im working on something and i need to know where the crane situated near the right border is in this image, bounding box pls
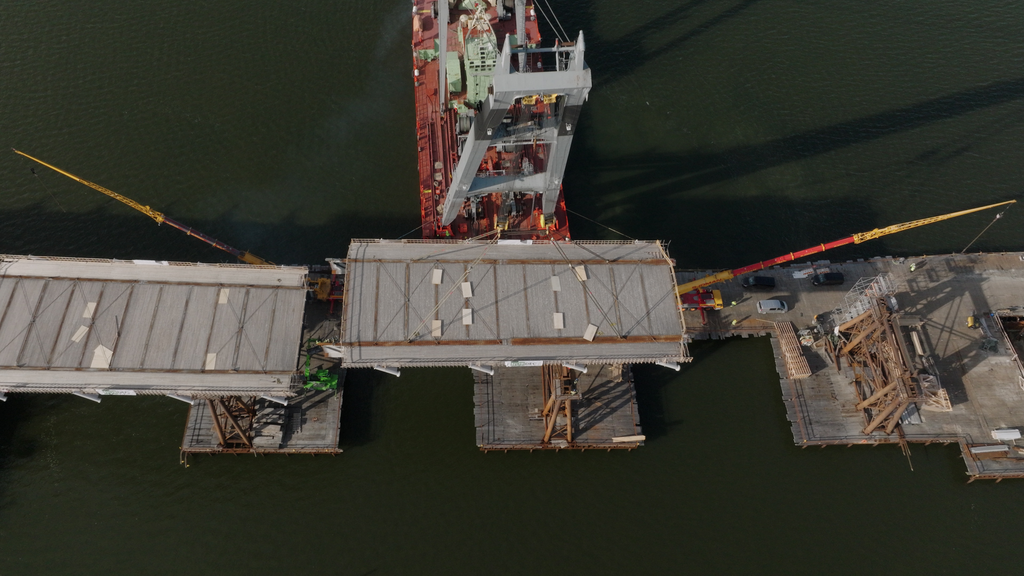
[670,200,1017,325]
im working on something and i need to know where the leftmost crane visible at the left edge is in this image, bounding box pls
[12,149,350,323]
